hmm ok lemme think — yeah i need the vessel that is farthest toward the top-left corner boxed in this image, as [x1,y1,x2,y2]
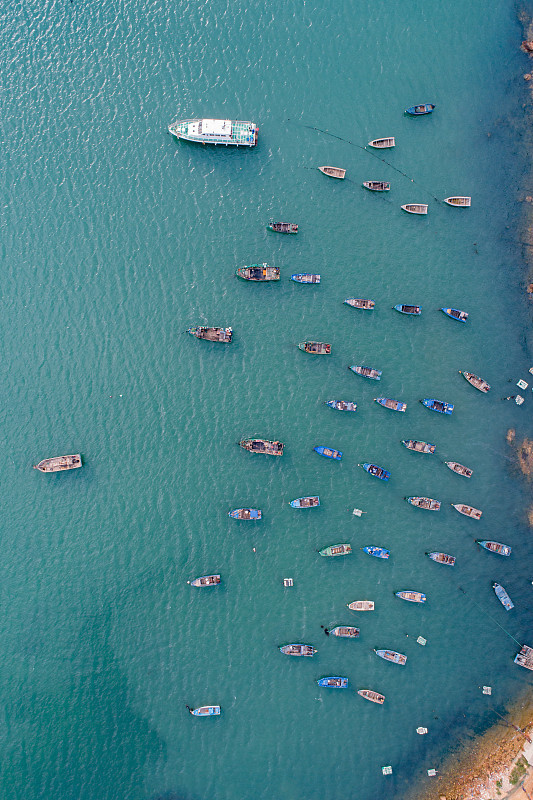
[168,118,257,149]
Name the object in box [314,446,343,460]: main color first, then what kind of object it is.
blue boat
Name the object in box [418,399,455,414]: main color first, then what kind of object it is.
blue boat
